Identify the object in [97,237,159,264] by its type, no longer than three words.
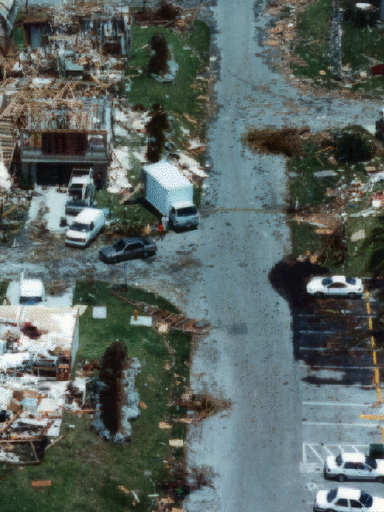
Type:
car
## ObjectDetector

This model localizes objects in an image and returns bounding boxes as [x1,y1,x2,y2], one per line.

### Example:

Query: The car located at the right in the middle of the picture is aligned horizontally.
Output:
[303,275,367,300]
